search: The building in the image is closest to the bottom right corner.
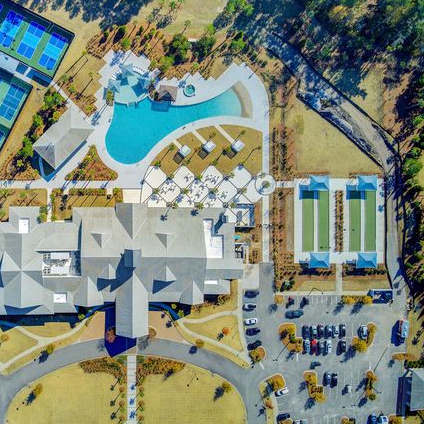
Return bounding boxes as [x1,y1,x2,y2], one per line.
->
[406,368,424,410]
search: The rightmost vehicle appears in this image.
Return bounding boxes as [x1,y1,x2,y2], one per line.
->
[395,318,408,339]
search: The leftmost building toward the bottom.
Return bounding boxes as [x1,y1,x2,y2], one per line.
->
[0,202,243,339]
